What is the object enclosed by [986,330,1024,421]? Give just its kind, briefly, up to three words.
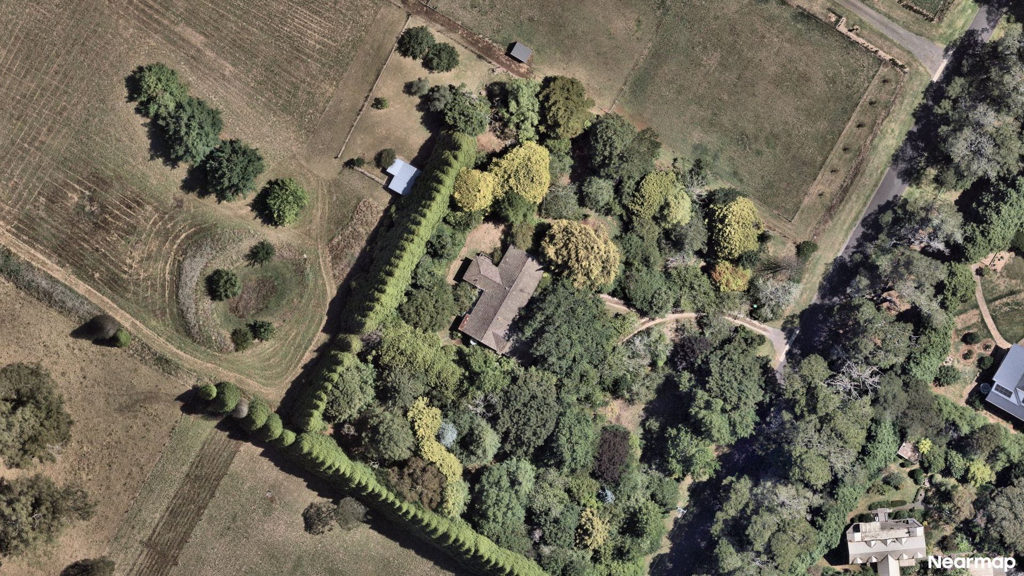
house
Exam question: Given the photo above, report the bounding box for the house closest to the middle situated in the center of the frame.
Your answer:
[461,245,544,357]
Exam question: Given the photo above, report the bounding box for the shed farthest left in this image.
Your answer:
[387,158,422,196]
